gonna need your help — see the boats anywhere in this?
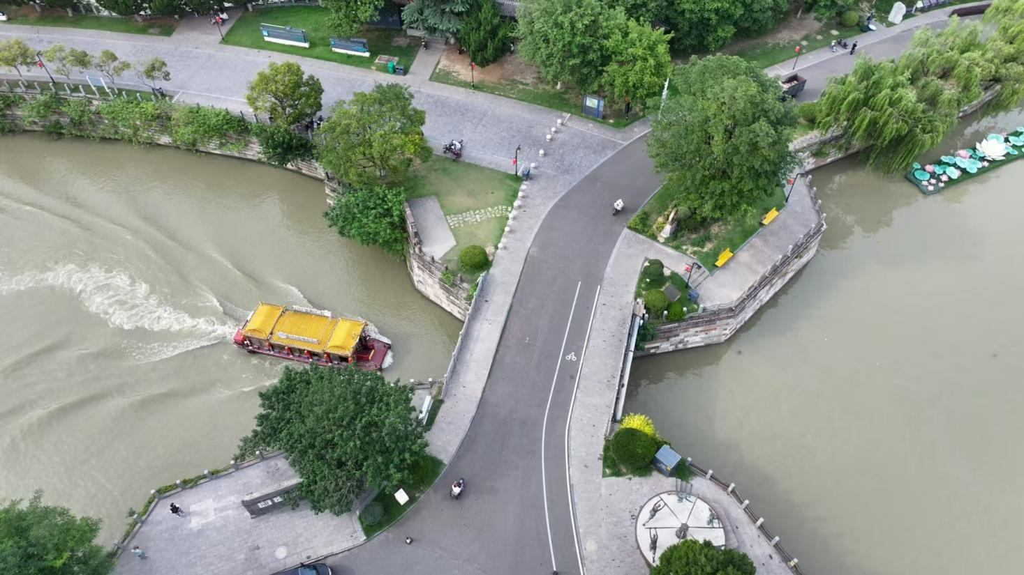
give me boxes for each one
[235,297,394,376]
